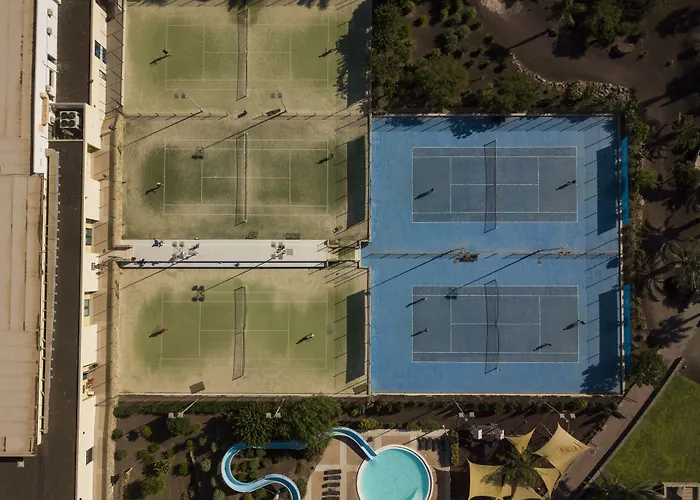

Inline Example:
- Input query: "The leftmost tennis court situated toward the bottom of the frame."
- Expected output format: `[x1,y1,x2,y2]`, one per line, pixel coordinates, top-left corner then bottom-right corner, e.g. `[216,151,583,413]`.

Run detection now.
[113,263,368,395]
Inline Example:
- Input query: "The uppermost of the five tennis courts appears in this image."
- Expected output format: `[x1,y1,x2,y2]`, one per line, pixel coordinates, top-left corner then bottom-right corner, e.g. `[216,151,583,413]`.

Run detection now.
[124,0,367,114]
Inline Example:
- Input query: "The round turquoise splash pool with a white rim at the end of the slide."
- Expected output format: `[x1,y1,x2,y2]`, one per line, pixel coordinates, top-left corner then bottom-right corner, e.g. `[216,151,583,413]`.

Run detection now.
[357,445,433,500]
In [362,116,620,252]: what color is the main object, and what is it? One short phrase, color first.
blue tennis court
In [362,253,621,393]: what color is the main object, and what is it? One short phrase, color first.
blue tennis court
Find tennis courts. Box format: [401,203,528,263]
[120,116,367,241]
[124,0,367,114]
[362,253,621,393]
[362,116,620,252]
[113,263,368,395]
